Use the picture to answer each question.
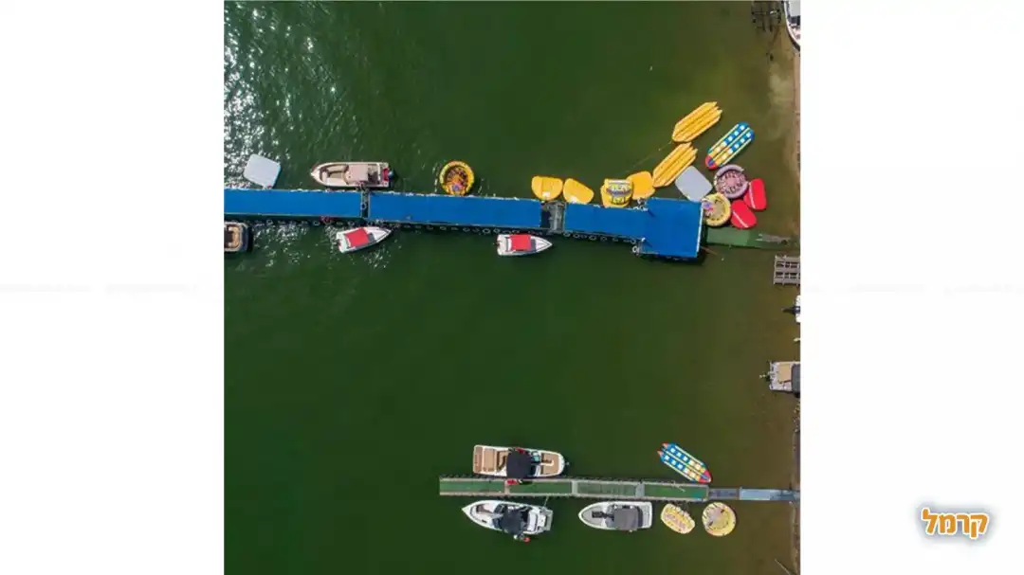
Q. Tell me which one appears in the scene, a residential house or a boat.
boat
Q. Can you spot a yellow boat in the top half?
Yes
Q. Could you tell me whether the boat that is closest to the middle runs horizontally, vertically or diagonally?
horizontally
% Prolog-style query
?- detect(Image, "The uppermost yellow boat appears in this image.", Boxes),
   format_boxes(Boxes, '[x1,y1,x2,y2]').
[670,97,726,144]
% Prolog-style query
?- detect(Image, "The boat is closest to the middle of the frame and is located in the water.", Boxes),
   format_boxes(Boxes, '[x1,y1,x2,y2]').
[490,234,553,256]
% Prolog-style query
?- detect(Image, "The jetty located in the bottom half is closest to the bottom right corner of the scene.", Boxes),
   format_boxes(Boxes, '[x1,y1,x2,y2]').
[440,478,802,506]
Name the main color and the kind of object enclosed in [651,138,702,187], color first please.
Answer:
yellow boat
